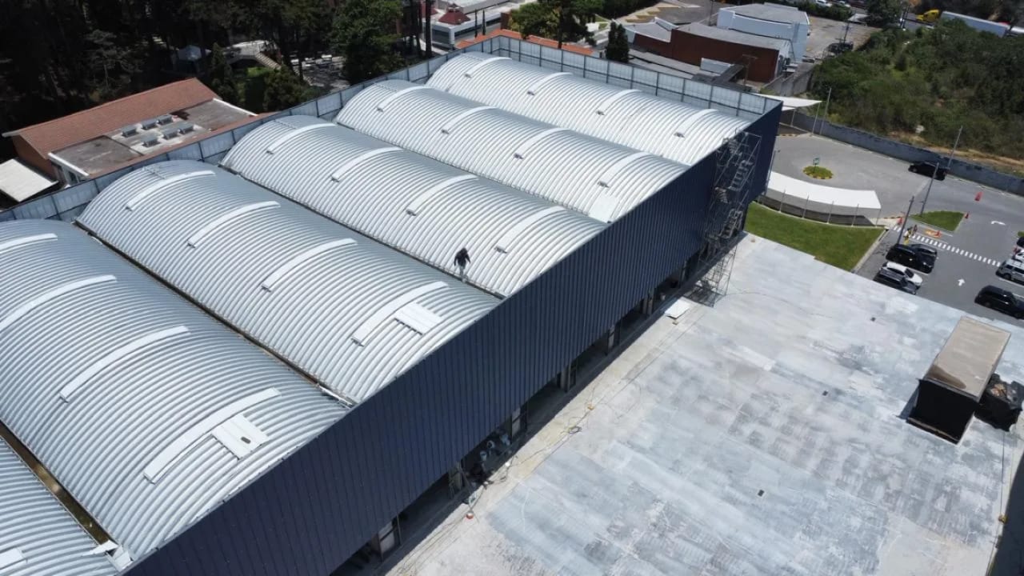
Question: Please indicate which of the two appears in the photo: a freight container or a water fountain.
freight container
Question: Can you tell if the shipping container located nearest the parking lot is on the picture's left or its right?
right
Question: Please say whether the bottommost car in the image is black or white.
black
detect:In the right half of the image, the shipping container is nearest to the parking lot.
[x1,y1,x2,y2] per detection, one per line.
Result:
[897,315,1006,442]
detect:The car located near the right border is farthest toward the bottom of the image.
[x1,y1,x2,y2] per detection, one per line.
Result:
[975,280,1024,315]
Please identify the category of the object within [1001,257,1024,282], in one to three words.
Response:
vehicle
